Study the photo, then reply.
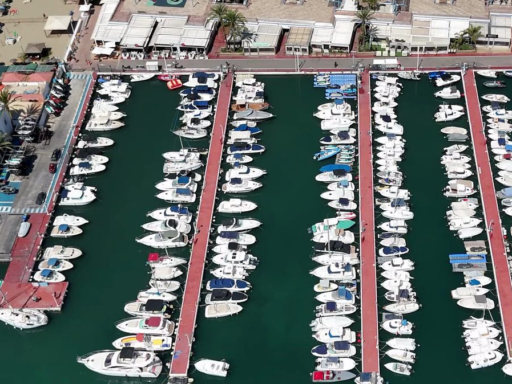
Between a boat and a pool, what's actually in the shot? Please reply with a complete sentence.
Visible in the photo is a boat.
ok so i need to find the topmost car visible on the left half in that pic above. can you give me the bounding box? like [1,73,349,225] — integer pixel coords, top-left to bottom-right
[50,145,63,162]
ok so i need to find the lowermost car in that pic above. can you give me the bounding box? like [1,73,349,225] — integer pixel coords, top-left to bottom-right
[33,189,49,208]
